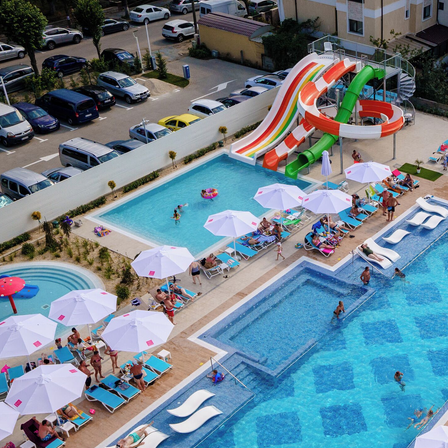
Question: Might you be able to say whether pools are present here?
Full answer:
Yes, there's a pool down there.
